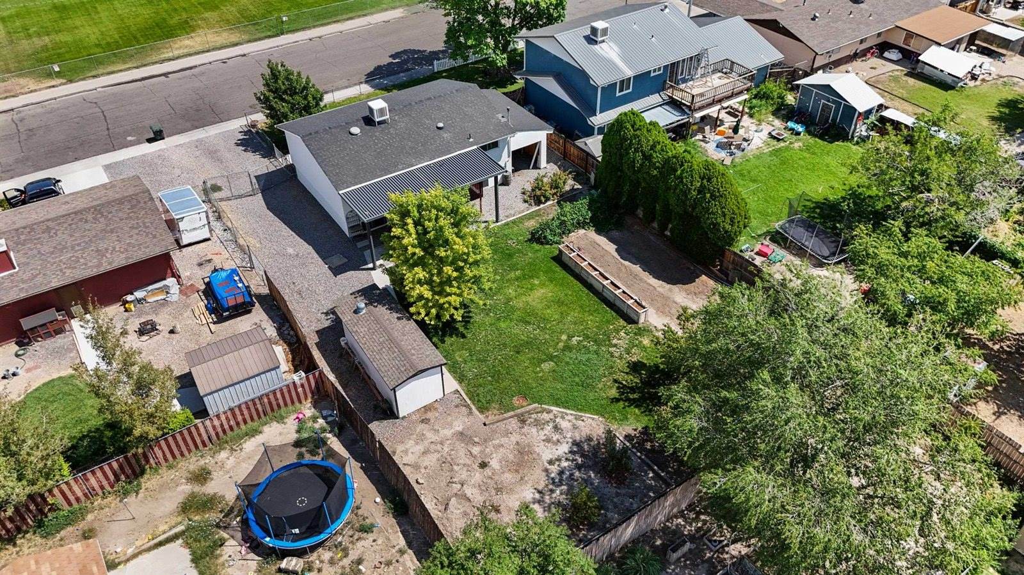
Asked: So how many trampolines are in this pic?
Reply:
2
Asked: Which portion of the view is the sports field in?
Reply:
top left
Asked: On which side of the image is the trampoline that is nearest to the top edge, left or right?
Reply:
right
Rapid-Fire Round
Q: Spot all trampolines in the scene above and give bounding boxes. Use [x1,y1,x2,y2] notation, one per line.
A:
[224,426,354,565]
[773,194,854,272]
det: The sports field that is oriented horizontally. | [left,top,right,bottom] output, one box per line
[0,0,423,97]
